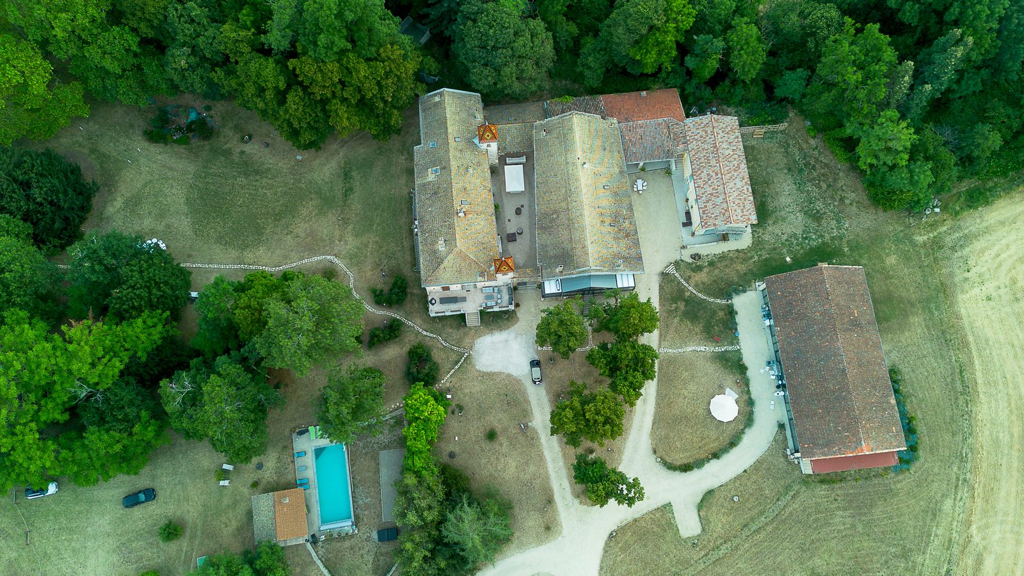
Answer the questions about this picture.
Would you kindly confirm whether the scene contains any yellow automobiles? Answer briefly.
No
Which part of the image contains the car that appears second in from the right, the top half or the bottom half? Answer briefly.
bottom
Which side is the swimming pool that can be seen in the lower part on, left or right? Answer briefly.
left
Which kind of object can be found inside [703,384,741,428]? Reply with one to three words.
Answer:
tent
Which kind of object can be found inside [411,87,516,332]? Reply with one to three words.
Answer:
house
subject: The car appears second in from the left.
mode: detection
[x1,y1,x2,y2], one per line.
[118,488,156,508]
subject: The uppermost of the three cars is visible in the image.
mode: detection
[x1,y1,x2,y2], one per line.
[528,357,544,386]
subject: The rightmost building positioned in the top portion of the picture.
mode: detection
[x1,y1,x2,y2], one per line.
[684,114,758,243]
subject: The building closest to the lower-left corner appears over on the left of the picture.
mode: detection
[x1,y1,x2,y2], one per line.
[250,487,313,545]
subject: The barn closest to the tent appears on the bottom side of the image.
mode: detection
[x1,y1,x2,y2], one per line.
[760,263,907,475]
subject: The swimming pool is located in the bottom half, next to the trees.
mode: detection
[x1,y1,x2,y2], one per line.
[310,440,357,535]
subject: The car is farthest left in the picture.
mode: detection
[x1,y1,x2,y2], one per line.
[20,482,57,500]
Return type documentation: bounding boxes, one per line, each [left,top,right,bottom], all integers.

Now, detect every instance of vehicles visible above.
[528,357,544,386]
[118,488,156,508]
[20,482,57,500]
